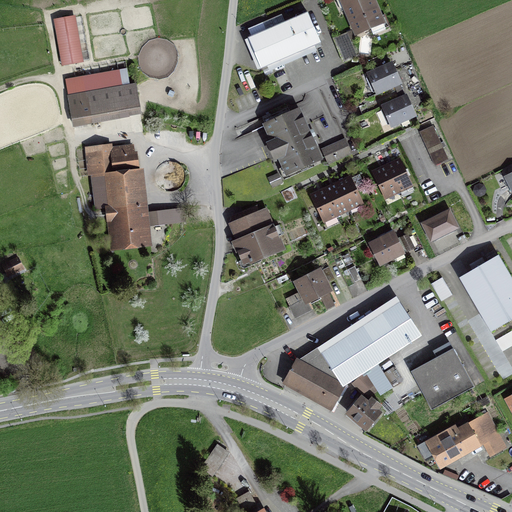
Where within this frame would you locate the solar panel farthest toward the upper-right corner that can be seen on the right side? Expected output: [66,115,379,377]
[336,34,354,60]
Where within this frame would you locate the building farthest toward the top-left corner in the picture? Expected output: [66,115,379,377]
[54,16,84,66]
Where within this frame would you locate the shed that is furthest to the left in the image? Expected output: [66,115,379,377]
[4,254,26,279]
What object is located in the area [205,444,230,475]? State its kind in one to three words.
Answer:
barn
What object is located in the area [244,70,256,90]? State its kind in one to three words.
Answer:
vehicle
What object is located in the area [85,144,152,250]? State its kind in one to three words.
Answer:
house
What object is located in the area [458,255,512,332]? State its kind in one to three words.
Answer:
building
